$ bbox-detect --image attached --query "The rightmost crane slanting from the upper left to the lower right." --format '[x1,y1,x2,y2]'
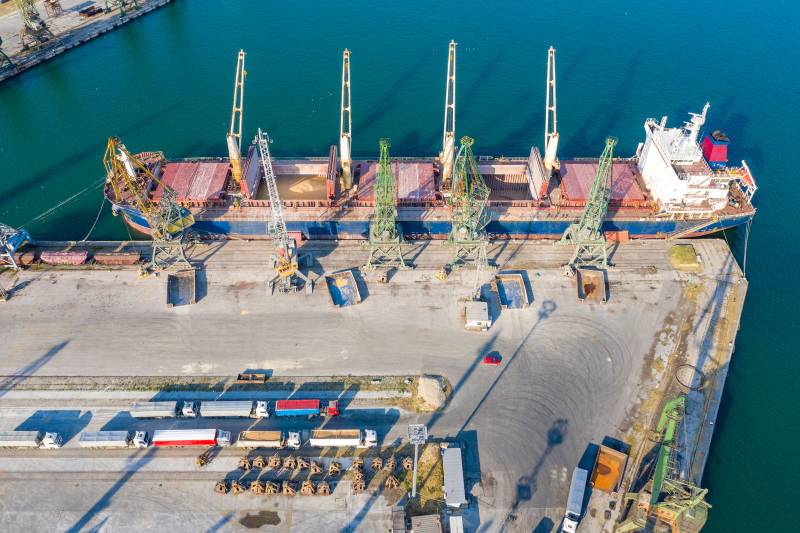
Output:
[108,132,201,268]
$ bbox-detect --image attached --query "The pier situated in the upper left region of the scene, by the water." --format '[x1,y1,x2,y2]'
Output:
[0,0,184,87]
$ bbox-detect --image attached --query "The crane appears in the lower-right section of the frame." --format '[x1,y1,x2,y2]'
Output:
[618,390,705,533]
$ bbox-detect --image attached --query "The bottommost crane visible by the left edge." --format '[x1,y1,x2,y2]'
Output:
[0,205,41,268]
